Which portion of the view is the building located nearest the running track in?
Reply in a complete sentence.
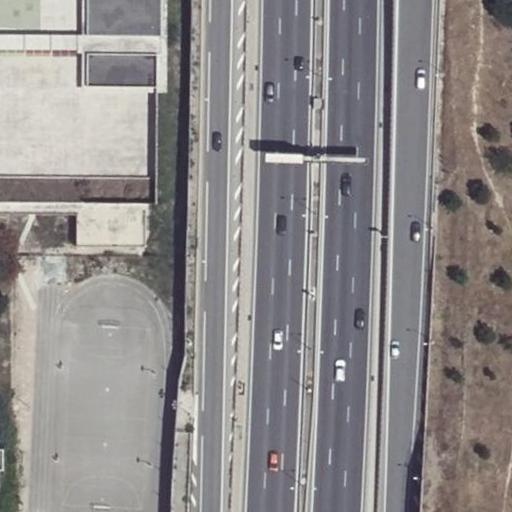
Look in the left portion of the view to spot the building located nearest the running track.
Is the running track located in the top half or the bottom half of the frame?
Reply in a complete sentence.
The bottom half of the photo is where the running track is.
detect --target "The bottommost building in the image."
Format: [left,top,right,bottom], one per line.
[0,202,148,250]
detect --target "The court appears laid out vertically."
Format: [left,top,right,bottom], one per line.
[64,327,150,512]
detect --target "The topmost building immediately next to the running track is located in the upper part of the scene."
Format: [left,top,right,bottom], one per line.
[0,0,168,178]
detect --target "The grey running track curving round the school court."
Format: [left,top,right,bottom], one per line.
[29,276,176,512]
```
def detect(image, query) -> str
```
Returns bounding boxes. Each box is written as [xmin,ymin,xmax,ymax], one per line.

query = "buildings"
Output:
[0,202,148,250]
[0,0,168,178]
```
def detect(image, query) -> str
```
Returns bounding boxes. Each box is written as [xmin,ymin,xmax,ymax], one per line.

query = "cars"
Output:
[356,308,365,328]
[274,330,284,350]
[417,68,426,88]
[295,56,304,71]
[336,360,346,381]
[277,216,287,235]
[342,174,352,195]
[269,450,278,470]
[390,341,400,359]
[264,82,274,102]
[212,132,222,151]
[412,222,421,242]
